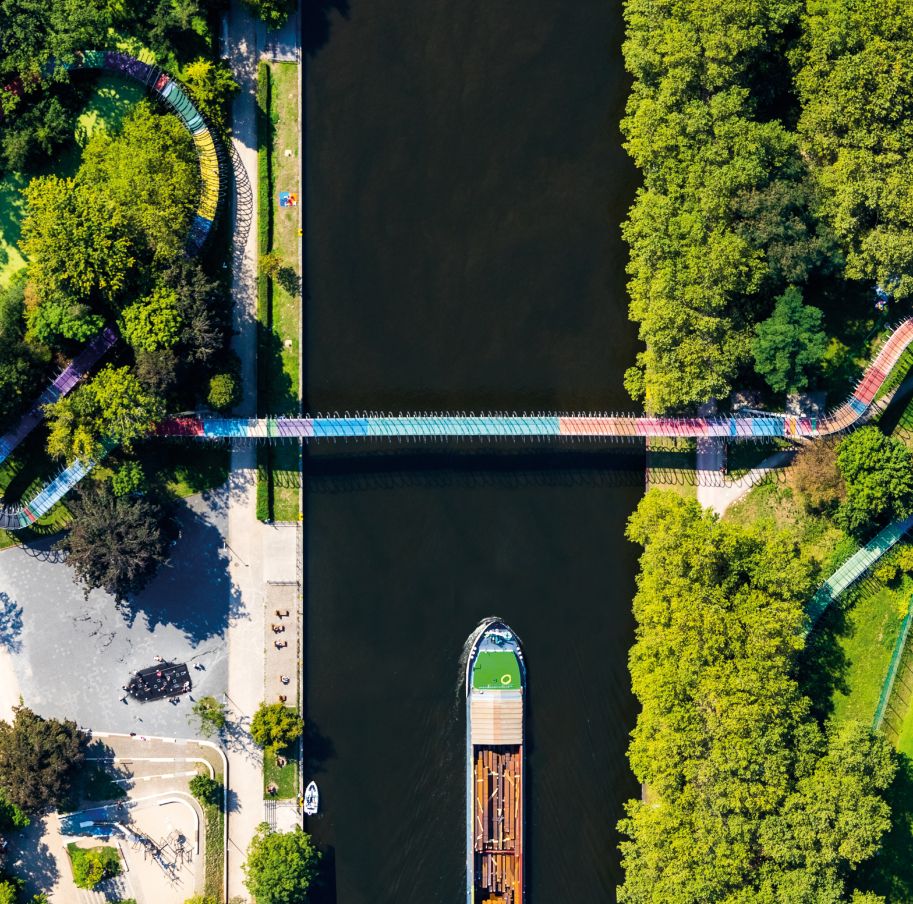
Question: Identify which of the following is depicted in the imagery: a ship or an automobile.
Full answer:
Of the two, only a ship appears.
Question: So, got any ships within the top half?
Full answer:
No, there's no ship to be seen within the top half.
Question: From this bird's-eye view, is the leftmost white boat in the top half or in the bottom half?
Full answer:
The leftmost white boat sits in the bottom half of the picture.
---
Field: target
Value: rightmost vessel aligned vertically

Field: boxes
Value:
[466,620,527,904]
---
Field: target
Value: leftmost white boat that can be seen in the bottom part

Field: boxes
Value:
[299,779,318,816]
